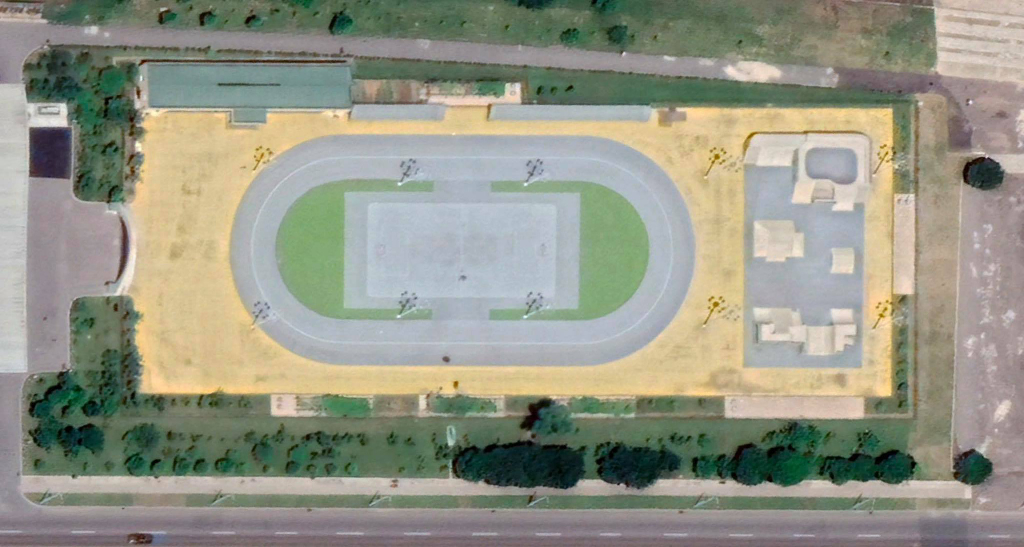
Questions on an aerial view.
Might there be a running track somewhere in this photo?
Yes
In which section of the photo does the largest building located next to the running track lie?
top left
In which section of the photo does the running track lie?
center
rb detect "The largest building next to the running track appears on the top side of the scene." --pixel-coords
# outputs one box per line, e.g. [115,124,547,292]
[133,62,352,126]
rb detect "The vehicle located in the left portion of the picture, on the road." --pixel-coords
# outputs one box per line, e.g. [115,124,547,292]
[128,533,152,545]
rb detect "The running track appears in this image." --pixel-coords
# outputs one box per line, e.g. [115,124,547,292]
[231,134,695,366]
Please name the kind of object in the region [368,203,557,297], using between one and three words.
sports court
